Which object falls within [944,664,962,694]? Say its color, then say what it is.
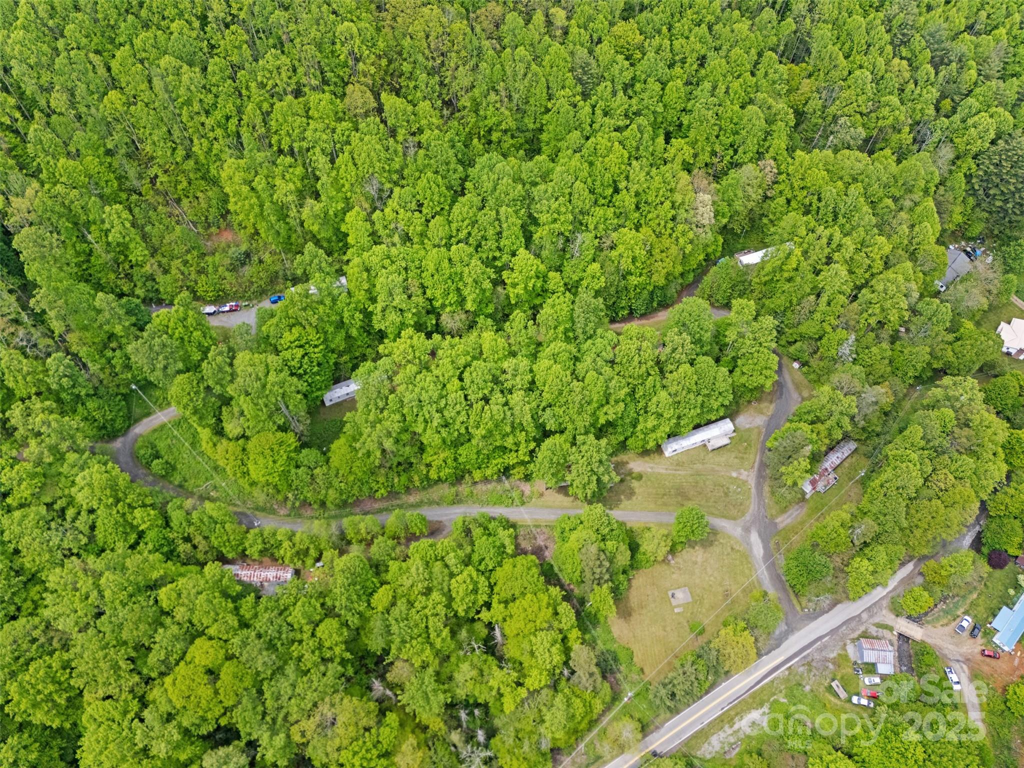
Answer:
white vehicle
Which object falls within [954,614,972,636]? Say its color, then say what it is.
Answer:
white vehicle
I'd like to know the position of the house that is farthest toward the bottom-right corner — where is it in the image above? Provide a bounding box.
[980,592,1024,658]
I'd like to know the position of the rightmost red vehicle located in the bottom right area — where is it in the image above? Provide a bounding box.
[979,648,1002,662]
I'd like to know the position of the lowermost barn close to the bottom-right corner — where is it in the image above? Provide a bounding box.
[853,636,894,681]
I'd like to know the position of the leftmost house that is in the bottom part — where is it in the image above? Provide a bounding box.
[223,563,298,600]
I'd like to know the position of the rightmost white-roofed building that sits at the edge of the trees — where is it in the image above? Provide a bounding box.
[981,314,1024,365]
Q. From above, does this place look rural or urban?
rural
